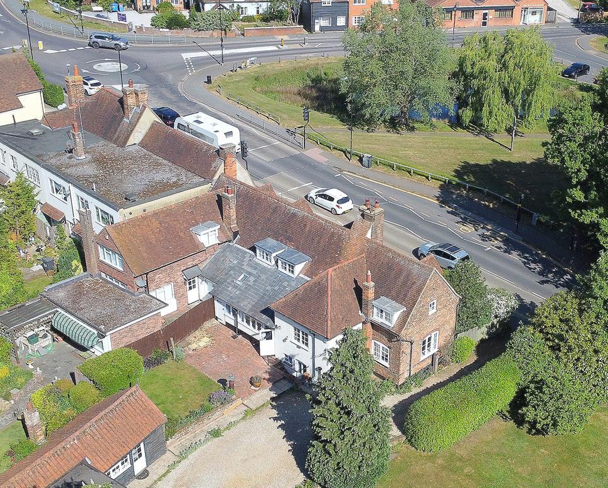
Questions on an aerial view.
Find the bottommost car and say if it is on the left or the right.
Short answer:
right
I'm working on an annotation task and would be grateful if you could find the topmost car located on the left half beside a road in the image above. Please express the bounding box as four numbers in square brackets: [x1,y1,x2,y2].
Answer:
[87,29,132,49]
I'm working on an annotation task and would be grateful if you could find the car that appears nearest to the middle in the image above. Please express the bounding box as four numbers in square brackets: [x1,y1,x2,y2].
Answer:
[303,188,358,214]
